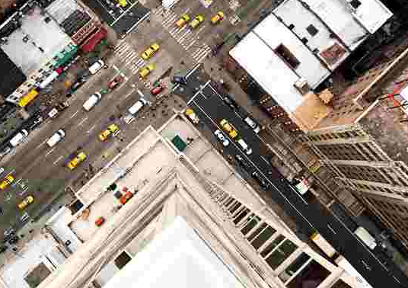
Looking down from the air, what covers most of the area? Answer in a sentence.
For the most part, this view shows buildings.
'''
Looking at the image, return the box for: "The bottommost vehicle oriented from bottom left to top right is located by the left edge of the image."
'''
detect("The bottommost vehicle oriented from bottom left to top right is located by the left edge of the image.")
[16,193,35,211]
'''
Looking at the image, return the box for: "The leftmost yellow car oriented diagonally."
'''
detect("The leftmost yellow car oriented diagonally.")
[0,174,16,192]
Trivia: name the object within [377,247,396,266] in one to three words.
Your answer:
car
